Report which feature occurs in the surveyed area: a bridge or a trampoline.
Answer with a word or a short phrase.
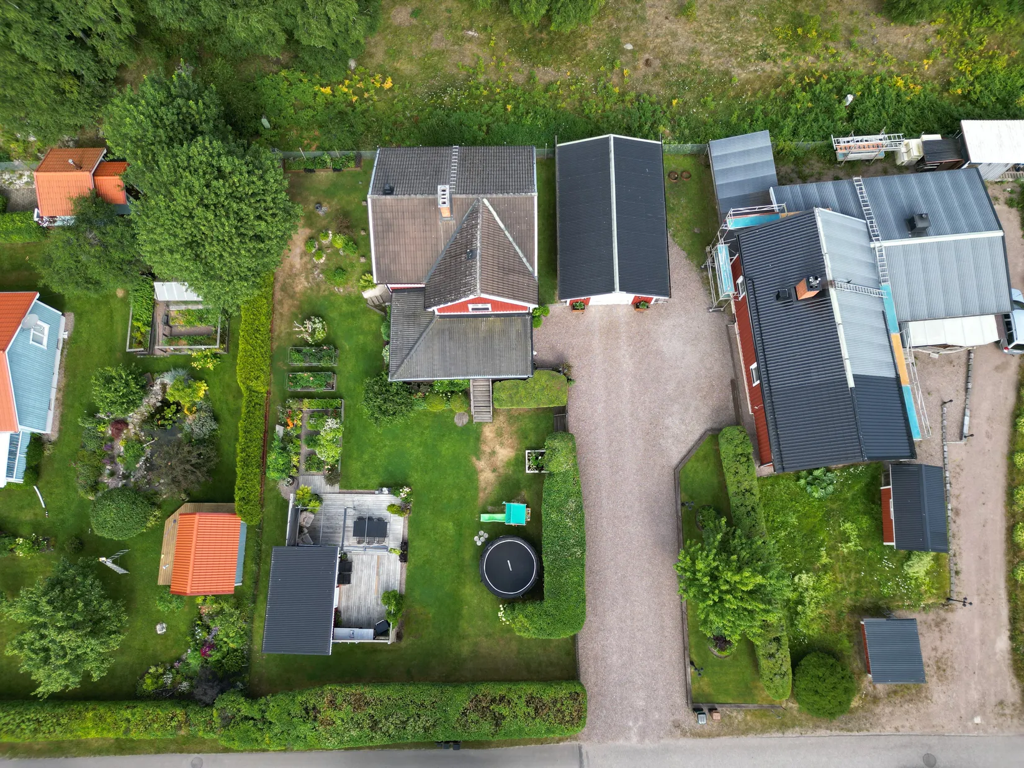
trampoline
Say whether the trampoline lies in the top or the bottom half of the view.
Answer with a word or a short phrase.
bottom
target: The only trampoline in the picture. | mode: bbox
[477,533,543,603]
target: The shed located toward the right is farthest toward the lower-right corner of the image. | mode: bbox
[851,618,926,683]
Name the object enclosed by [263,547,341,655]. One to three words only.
shed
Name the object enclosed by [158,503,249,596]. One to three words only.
building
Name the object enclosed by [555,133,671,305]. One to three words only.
building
